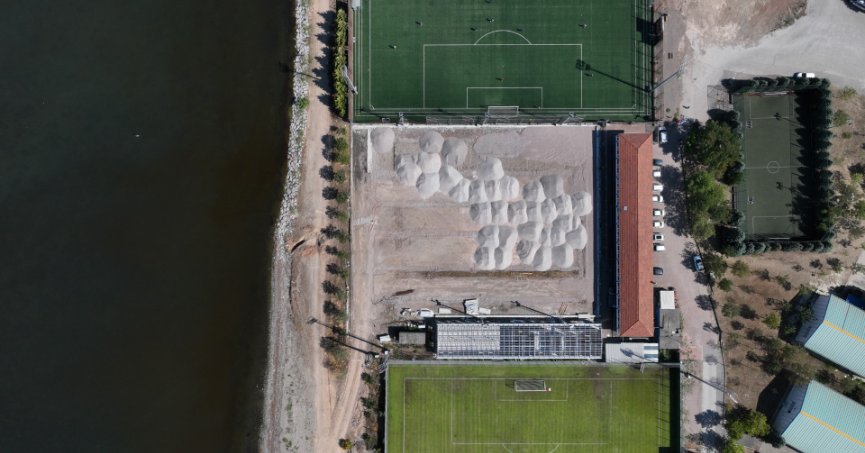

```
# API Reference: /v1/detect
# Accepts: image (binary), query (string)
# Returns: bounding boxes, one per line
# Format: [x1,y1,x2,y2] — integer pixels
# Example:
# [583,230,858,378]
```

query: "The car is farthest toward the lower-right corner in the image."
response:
[692,254,705,273]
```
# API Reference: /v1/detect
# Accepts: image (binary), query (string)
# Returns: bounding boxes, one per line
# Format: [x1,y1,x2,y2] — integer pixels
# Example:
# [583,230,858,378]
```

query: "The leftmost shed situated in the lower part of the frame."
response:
[399,331,425,345]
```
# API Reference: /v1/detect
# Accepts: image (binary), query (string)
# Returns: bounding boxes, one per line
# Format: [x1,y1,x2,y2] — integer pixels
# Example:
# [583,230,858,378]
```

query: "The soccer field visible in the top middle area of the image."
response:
[353,0,653,124]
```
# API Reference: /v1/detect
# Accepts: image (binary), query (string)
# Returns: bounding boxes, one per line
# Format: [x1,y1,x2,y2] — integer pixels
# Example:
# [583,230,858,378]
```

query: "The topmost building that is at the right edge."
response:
[797,293,865,379]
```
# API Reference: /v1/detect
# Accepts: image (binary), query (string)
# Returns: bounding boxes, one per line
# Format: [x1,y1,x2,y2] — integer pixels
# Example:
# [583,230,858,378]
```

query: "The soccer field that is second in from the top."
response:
[732,94,812,241]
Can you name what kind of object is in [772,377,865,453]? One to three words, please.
building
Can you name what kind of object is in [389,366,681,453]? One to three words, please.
soccer field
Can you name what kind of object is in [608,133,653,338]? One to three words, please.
building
